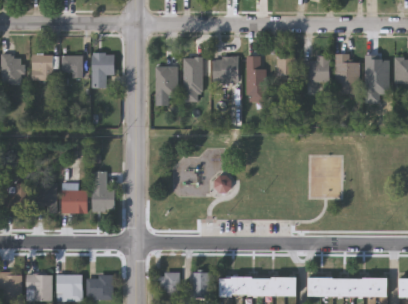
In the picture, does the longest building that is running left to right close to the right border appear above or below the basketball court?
below it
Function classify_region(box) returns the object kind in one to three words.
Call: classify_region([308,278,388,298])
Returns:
building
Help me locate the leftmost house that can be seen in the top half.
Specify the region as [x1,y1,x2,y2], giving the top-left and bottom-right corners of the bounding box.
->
[2,54,26,85]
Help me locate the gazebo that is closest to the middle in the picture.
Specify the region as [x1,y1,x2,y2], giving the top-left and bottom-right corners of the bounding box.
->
[215,176,232,194]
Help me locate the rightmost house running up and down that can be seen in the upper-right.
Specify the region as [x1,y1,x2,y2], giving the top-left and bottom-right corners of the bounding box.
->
[396,58,408,84]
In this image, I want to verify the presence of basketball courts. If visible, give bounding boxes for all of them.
[309,156,344,200]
